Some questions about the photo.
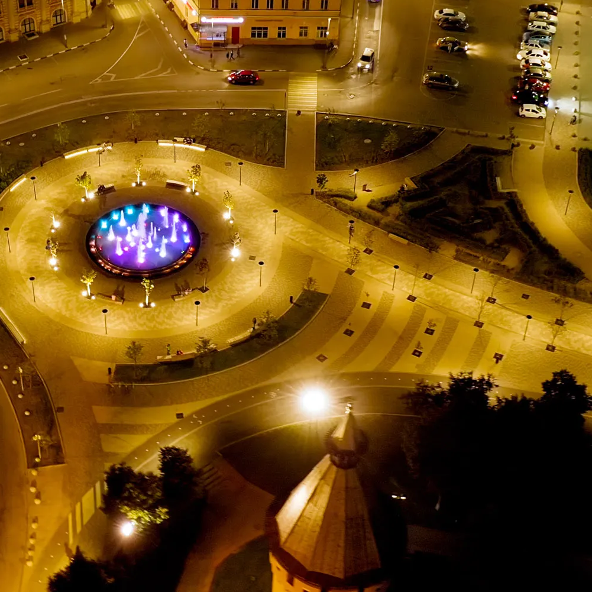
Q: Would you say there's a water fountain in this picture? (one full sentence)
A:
Yes, the image includes a water fountain.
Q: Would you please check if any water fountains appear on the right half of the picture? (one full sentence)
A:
No, there's no water fountain to be seen on the right half of the picture.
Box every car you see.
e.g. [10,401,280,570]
[228,71,262,85]
[521,38,551,51]
[520,67,553,81]
[437,38,469,53]
[528,2,559,14]
[518,48,551,61]
[425,73,458,89]
[513,86,548,104]
[518,103,547,119]
[521,76,549,92]
[527,20,557,33]
[524,29,551,42]
[358,47,375,72]
[520,57,553,70]
[439,18,470,31]
[528,10,559,24]
[433,8,465,21]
